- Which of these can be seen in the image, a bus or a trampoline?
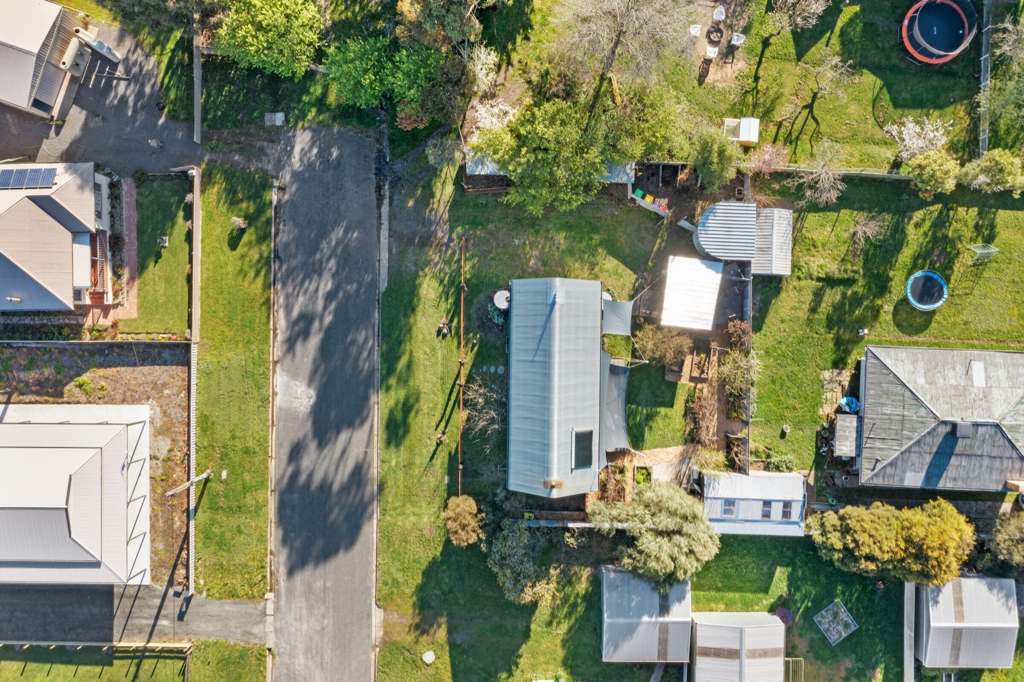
trampoline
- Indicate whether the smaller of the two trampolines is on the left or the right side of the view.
right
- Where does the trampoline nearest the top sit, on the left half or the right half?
right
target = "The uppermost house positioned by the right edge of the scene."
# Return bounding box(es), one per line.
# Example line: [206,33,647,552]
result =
[833,345,1024,495]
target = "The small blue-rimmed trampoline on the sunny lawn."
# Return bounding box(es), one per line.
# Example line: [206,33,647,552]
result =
[900,269,948,312]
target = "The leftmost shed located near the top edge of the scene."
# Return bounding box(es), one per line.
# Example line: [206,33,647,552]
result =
[0,0,82,115]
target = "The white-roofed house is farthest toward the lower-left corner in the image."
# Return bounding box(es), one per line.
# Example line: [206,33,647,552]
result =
[0,405,149,584]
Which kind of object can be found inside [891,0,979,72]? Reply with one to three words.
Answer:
trampoline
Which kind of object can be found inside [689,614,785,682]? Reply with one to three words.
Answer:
building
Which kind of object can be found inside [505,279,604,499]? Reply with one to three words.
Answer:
house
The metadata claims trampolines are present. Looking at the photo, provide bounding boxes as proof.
[900,269,948,312]
[891,0,979,72]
